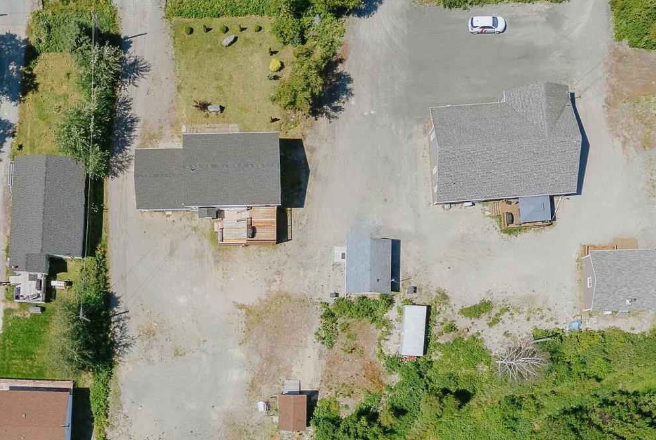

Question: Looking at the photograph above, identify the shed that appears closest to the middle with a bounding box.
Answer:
[344,237,402,295]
